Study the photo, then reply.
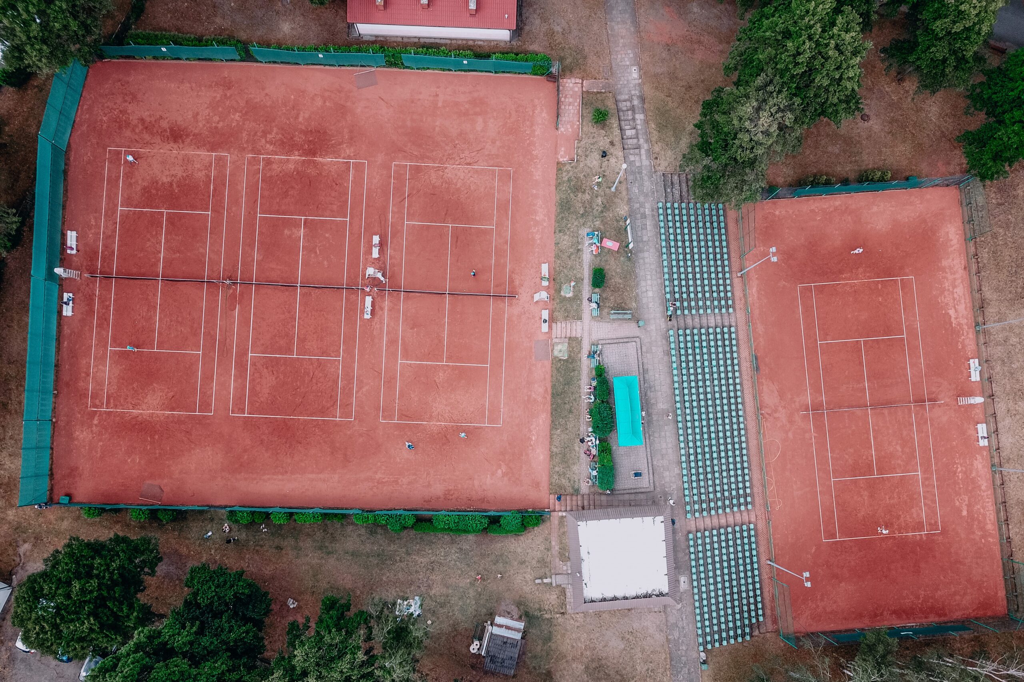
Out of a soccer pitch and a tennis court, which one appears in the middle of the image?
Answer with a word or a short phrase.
tennis court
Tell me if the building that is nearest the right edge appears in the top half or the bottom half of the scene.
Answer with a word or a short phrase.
bottom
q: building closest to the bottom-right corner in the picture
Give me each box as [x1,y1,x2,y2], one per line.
[565,504,682,614]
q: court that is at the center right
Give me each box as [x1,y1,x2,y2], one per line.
[751,188,1007,636]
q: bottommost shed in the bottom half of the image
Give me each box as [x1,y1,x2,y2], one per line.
[484,611,525,674]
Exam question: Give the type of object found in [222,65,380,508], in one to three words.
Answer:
tennis court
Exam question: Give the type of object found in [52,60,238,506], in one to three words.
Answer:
tennis court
